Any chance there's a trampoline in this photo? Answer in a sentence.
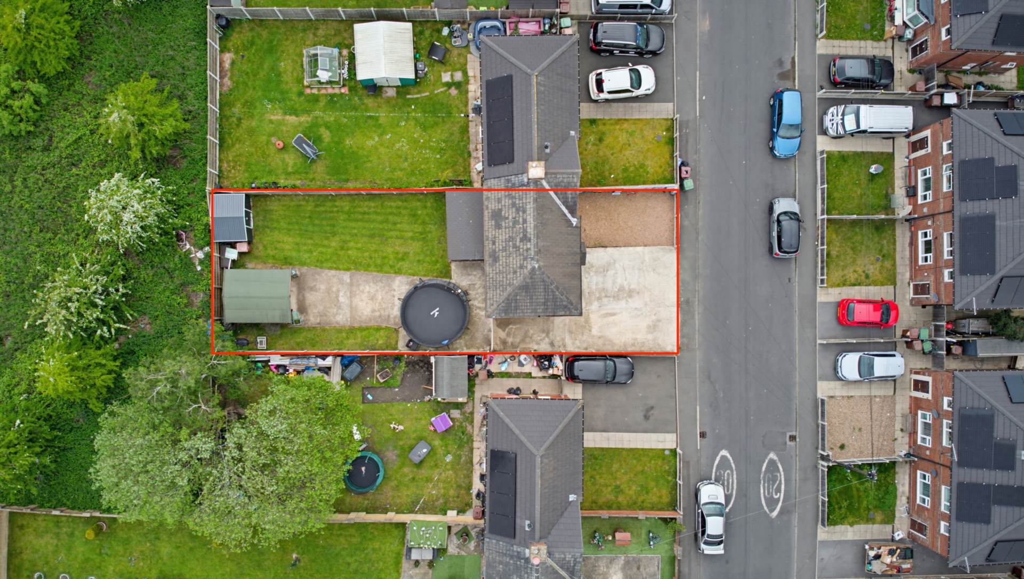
Yes, a trampoline is visible in the scene.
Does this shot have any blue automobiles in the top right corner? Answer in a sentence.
Yes, a blue automobile shows up in the top right corner.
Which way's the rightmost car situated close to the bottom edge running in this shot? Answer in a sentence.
The rightmost car situated close to the bottom edge runs vertically in the image.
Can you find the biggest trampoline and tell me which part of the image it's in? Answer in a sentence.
The biggest trampoline sits in the center section of the image.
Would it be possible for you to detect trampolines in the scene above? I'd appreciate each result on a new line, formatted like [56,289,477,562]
[401,280,470,348]
[345,450,385,494]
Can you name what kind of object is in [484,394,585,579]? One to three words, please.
house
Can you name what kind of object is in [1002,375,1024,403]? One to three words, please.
solar panel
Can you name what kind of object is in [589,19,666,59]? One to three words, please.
car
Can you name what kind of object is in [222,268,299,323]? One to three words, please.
shed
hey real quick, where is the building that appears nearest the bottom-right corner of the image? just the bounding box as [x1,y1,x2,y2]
[899,367,1024,571]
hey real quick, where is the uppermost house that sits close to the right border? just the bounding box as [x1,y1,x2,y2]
[902,0,1024,75]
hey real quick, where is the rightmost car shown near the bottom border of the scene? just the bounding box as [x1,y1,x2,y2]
[694,477,730,553]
